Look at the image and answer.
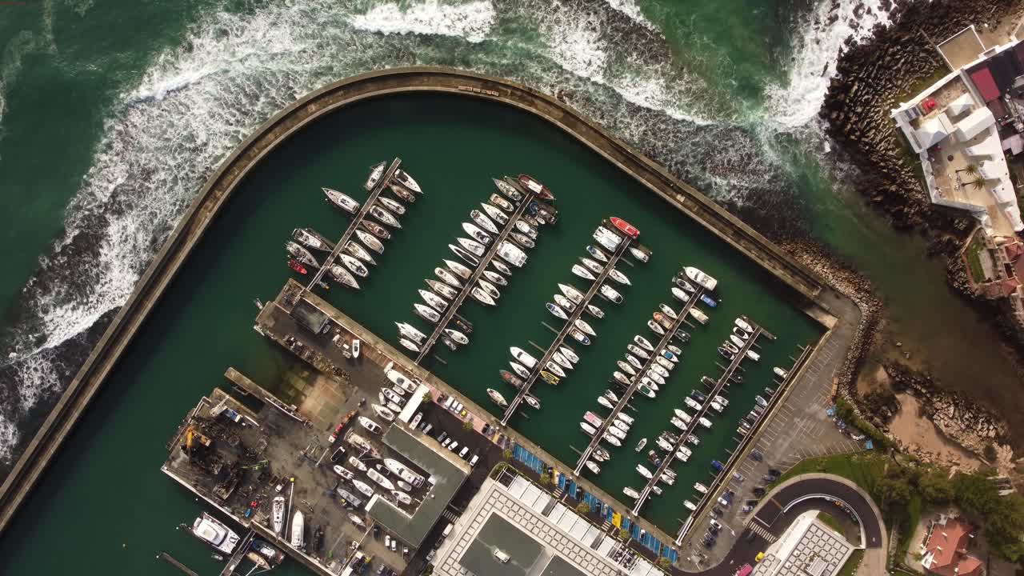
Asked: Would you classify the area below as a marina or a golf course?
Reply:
marina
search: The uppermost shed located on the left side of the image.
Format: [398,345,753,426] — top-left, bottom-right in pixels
[289,298,330,335]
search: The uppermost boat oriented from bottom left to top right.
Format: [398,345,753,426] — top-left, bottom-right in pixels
[364,162,385,190]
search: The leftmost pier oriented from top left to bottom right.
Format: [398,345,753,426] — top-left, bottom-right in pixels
[155,551,204,576]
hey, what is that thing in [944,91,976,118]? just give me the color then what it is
white tent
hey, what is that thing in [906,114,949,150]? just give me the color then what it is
white tent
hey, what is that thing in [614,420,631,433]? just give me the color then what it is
white boat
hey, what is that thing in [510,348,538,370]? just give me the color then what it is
white boat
